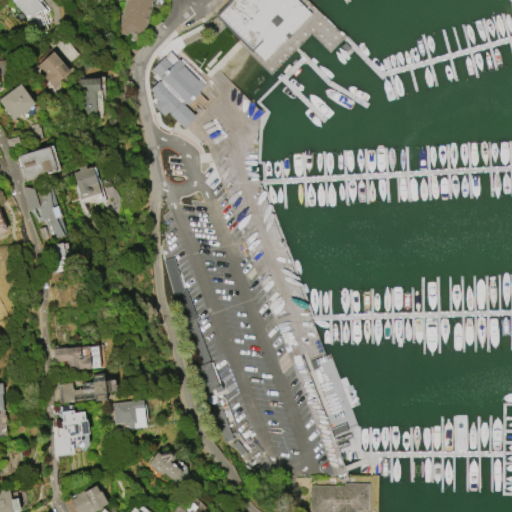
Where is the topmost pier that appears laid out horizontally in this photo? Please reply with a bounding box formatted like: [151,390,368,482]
[344,12,512,97]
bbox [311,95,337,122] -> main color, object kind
white boat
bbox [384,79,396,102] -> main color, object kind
white boat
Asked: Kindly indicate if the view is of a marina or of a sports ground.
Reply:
marina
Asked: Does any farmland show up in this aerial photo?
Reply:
No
